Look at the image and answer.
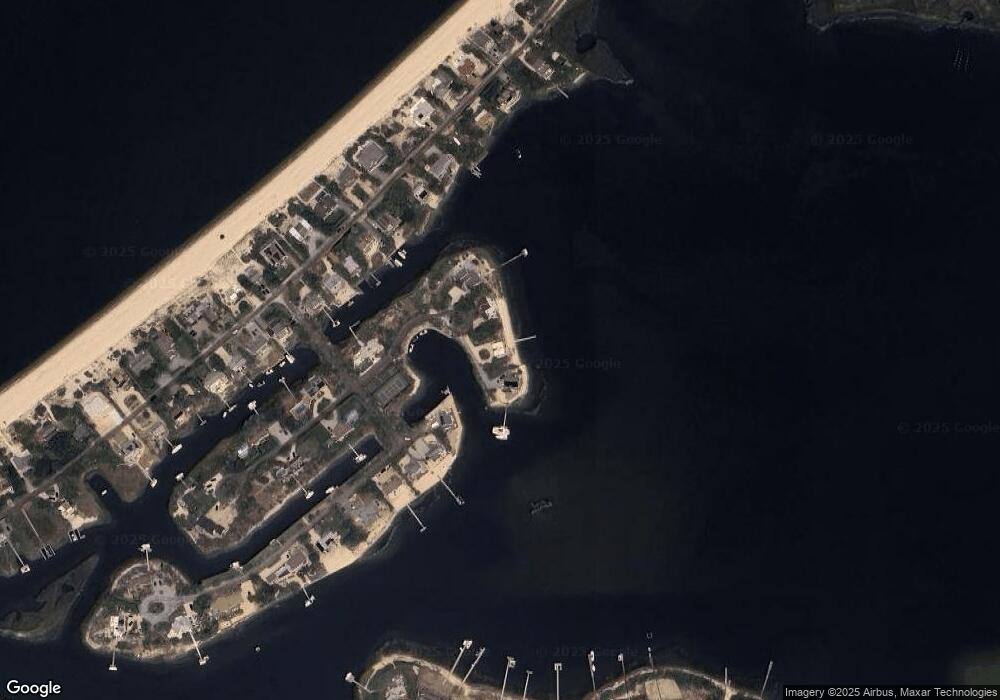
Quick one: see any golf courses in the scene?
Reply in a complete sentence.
No, there is no golf course in the image.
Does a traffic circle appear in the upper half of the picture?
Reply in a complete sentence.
No, in the upper half of the picture there is no traffic circle.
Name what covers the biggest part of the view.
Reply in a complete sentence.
The bulk of the photo consists of water.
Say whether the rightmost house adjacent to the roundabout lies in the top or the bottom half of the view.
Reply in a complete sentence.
Seen from above, the rightmost house adjacent to the roundabout lies in the bottom half of the view.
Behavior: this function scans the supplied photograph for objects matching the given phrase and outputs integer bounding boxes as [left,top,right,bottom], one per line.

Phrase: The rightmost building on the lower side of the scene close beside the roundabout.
[167,612,193,640]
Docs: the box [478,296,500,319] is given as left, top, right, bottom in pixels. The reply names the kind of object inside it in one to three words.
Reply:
house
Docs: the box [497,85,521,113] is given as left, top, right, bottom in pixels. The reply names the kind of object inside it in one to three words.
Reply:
house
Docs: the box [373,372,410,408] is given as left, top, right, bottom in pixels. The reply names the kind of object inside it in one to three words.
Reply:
tennis court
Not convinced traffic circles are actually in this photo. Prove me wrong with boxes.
[140,594,174,624]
